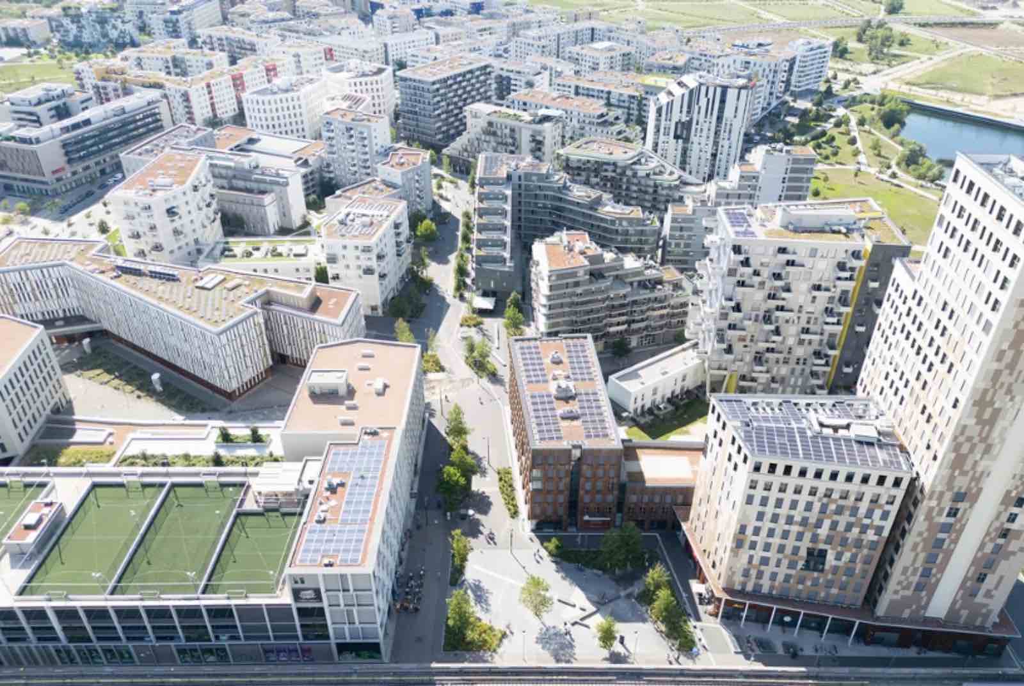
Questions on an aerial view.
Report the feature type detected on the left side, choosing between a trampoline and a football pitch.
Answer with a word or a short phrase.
football pitch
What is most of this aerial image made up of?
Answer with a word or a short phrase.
buildings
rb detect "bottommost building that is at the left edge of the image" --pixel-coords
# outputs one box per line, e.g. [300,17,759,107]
[0,453,325,660]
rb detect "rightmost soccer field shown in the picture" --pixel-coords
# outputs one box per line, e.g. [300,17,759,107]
[191,499,307,595]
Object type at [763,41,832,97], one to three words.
house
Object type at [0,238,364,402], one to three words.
building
